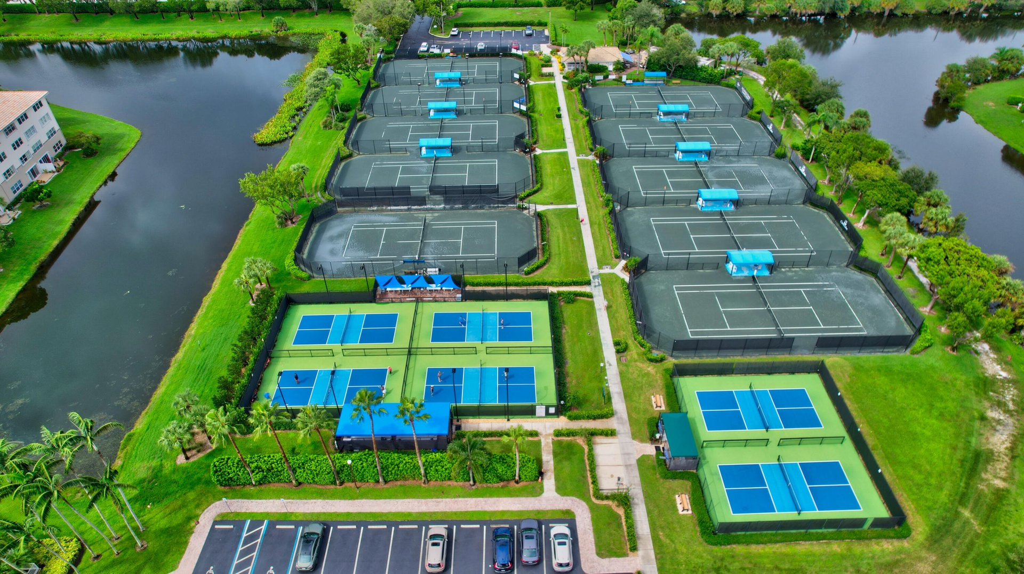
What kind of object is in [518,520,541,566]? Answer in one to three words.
car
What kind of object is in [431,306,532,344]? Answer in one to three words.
sports court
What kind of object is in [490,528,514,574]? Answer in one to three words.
car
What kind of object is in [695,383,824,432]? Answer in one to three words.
sports court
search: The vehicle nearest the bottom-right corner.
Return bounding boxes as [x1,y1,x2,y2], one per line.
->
[550,528,573,573]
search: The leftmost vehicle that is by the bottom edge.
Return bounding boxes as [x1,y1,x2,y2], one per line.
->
[293,524,321,571]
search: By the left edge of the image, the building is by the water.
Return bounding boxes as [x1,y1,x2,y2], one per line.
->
[0,90,66,219]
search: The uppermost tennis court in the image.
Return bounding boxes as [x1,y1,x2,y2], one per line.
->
[376,57,527,84]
